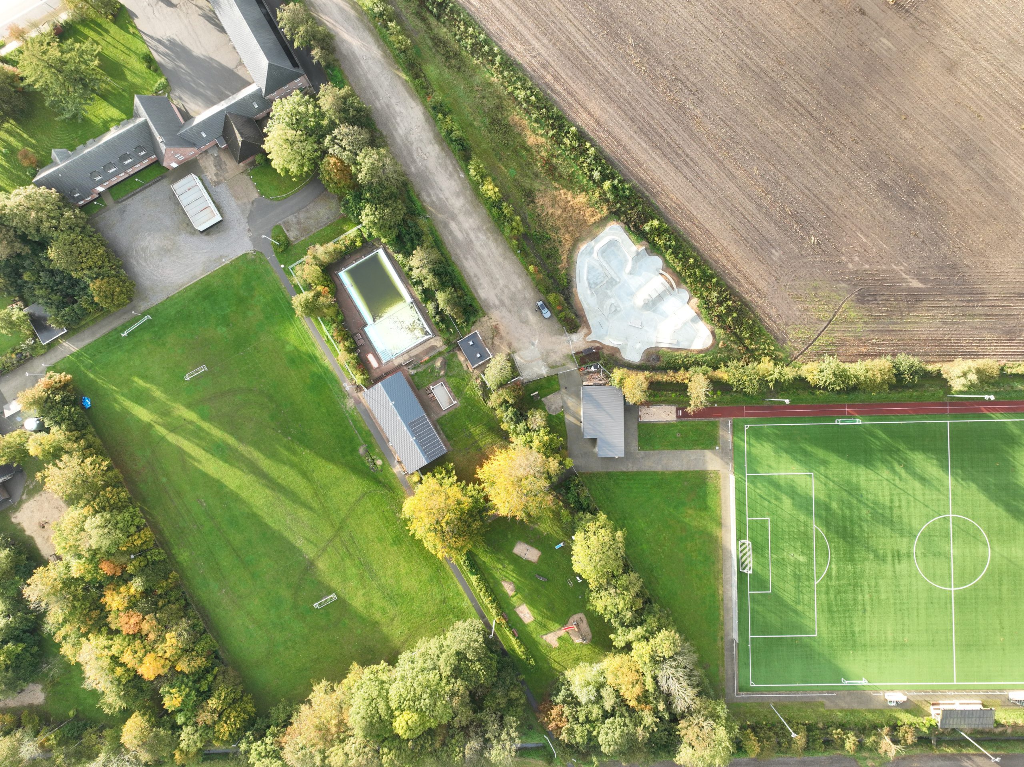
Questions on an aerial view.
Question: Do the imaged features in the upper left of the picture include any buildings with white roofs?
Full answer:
Yes, you'll find a building with a white roof in the upper left of the picture.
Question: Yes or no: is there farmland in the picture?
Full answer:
Yes, there's farmland in this view.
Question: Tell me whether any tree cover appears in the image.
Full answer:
Yes, there's tree cover in this view.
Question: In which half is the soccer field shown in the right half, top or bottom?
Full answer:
It is in the bottom half that the soccer field shown in the right half appears.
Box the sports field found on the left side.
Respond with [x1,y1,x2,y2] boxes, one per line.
[68,255,474,695]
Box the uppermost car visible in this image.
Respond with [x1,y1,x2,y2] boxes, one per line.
[536,299,550,318]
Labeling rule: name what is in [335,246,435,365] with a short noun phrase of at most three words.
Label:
swimming pool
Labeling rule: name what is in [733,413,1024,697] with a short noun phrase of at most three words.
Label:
soccer field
